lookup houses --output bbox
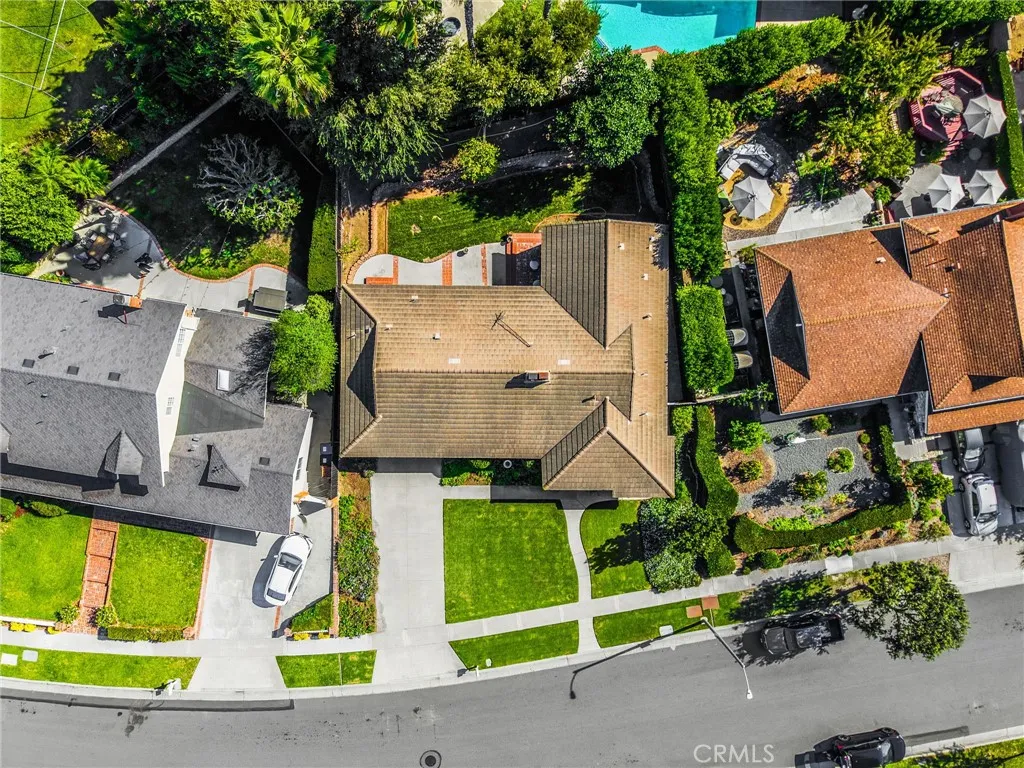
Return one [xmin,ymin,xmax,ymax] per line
[339,217,675,497]
[749,195,1024,434]
[0,273,317,534]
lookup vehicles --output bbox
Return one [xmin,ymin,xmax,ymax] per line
[956,473,1002,531]
[759,609,848,653]
[806,725,904,768]
[260,530,316,609]
[948,425,989,469]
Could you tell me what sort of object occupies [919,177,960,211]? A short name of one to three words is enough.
umbrella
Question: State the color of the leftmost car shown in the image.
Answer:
white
